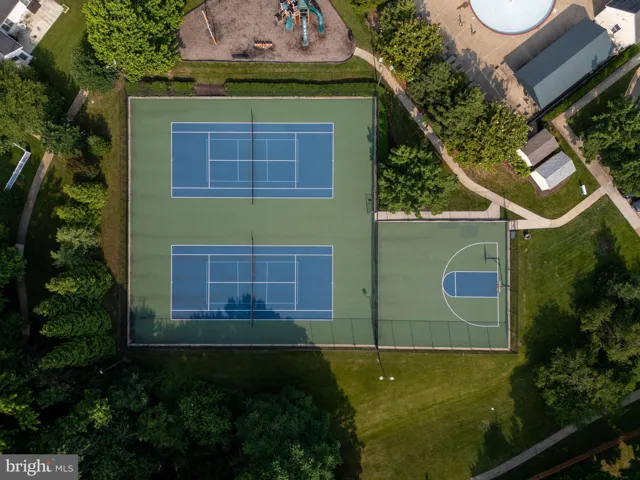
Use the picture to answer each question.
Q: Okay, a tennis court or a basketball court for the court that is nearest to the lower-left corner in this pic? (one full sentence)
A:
Looking closely, the court that is nearest to the lower-left corner is a tennis court.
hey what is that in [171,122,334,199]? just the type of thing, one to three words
tennis court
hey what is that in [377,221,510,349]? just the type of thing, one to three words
basketball court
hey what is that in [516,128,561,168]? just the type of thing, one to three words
shed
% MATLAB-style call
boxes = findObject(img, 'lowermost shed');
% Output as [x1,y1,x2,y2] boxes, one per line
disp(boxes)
[530,154,574,191]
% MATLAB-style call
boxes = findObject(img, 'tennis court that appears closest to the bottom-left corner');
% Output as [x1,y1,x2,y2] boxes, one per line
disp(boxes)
[171,244,334,321]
